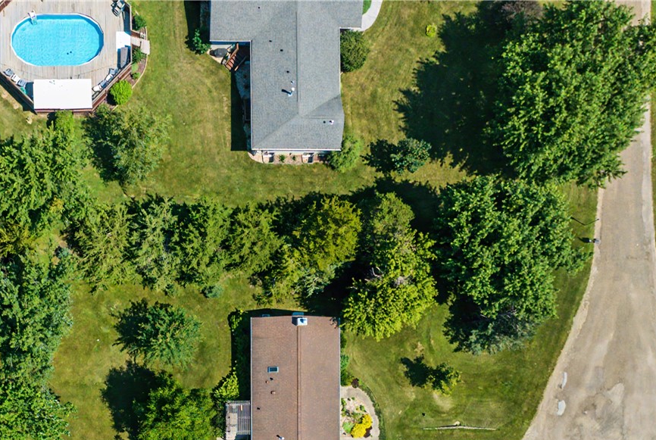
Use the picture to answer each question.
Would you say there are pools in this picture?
Yes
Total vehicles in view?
0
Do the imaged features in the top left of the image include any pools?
Yes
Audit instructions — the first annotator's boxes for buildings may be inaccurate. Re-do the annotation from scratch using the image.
[210,0,366,156]
[249,313,341,440]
